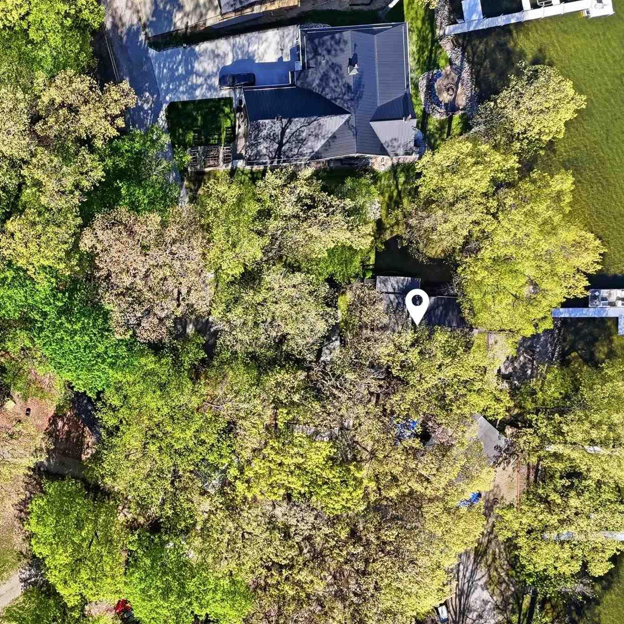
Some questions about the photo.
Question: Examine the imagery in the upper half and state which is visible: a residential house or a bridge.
residential house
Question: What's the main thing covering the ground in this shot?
trees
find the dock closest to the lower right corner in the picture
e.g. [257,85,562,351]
[545,529,624,542]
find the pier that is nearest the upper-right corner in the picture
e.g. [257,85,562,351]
[446,0,617,35]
